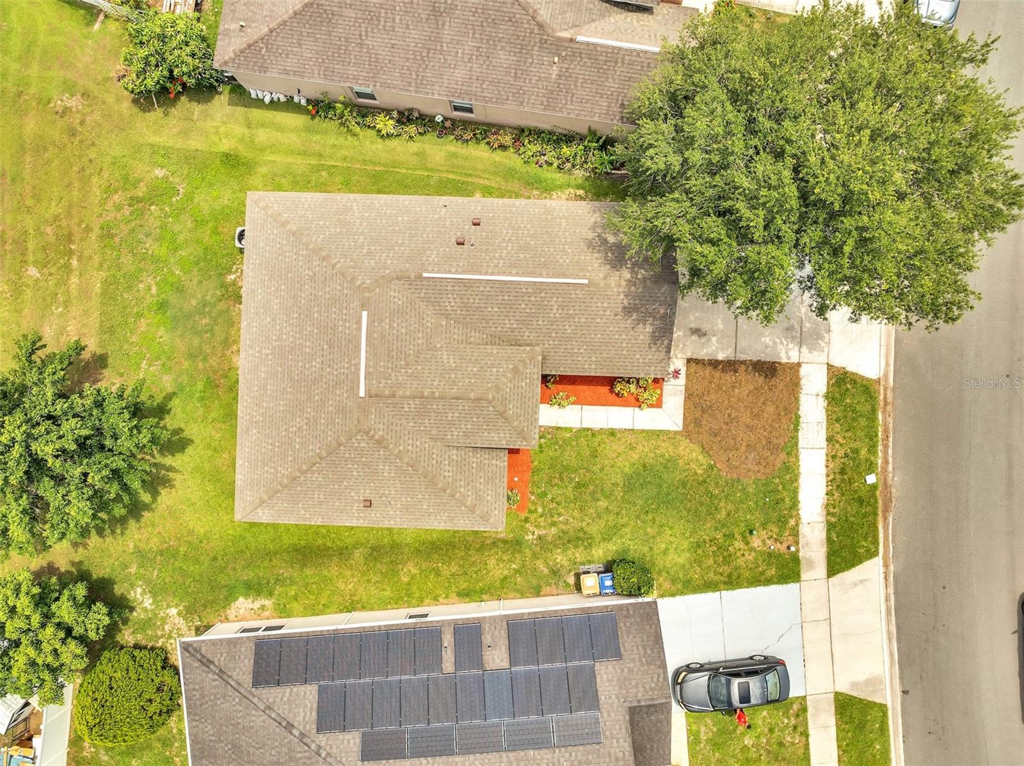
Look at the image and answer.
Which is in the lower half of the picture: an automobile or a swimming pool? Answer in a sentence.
Visible in the lower half of the picture is an automobile.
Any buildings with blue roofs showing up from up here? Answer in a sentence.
No, there isn't any building with a blue roof down there.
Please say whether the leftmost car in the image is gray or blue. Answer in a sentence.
The leftmost car is gray.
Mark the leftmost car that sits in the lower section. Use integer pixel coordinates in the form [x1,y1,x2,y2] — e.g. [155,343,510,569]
[671,655,790,717]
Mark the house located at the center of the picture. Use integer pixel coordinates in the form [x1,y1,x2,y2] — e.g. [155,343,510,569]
[233,188,680,533]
